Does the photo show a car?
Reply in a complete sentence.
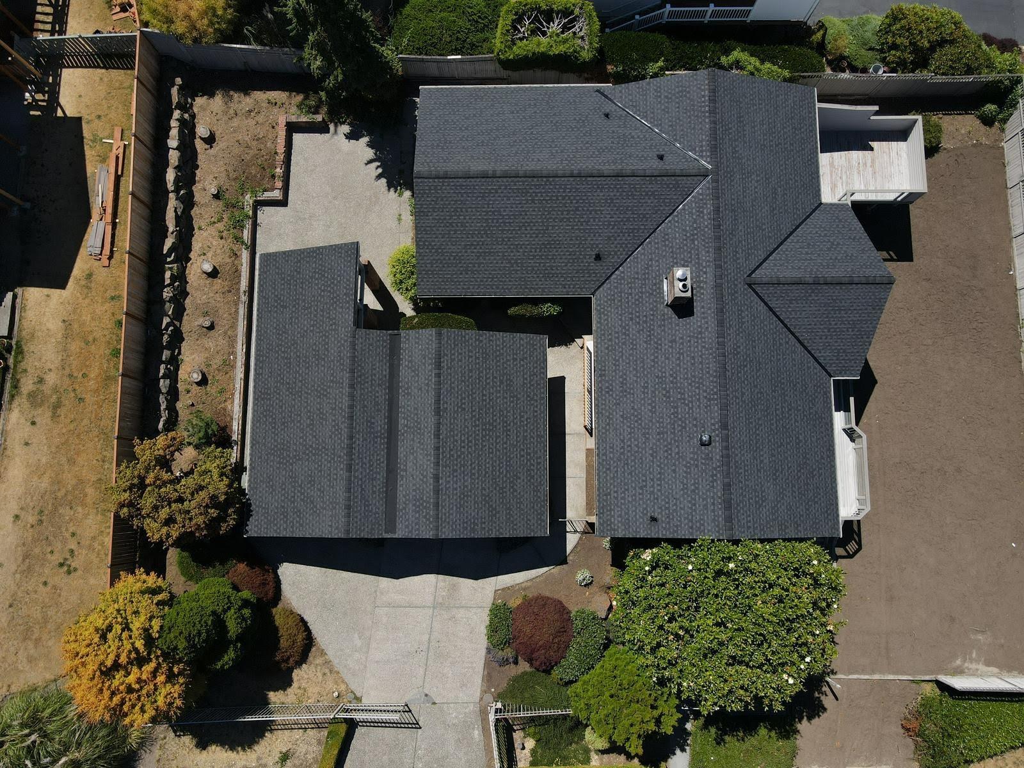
No, no car can be seen from above.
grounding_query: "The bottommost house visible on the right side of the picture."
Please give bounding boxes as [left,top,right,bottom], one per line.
[411,63,895,541]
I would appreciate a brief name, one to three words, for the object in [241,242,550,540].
building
